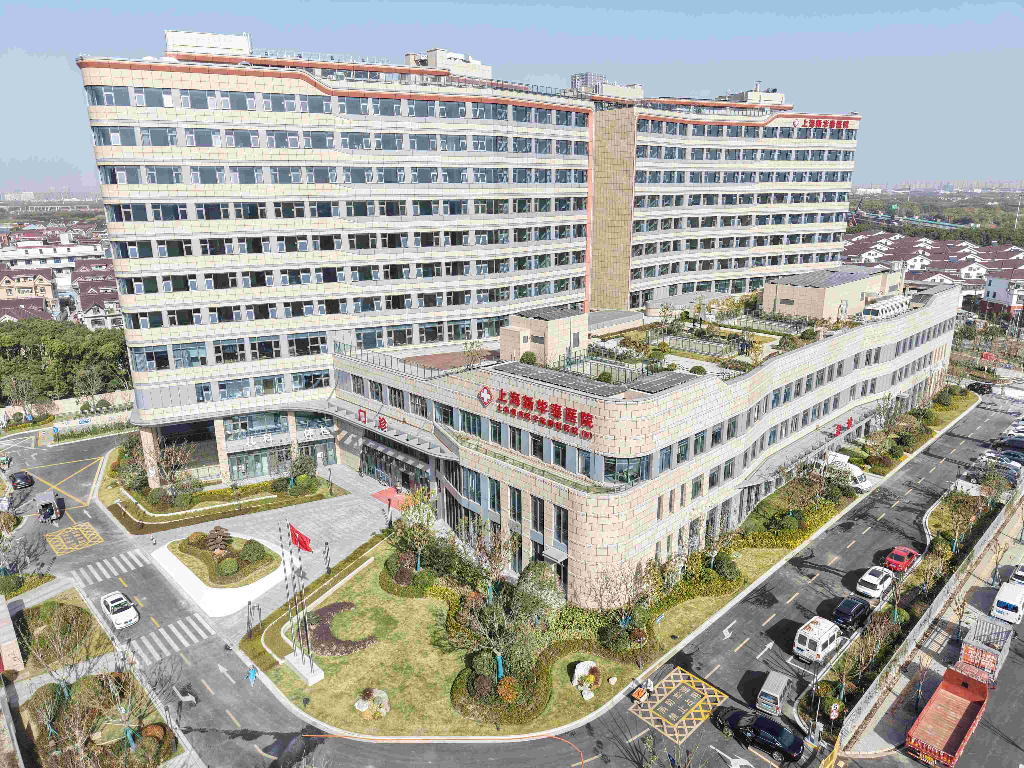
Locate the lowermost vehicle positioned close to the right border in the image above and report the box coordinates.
[905,657,1000,768]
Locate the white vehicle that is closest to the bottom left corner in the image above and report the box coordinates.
[100,587,138,627]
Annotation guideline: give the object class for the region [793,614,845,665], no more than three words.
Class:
van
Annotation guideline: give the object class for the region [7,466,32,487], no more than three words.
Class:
car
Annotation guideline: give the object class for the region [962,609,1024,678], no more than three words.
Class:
truck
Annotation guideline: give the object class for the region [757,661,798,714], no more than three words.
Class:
van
